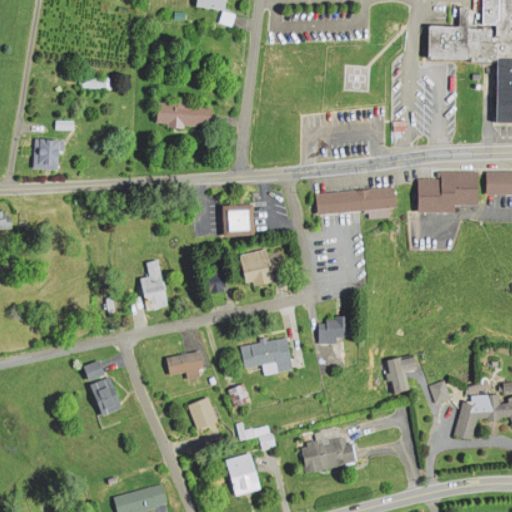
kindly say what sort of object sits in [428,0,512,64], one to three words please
building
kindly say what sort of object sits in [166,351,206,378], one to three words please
house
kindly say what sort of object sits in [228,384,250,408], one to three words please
barn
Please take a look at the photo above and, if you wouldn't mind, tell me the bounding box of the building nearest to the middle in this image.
[240,250,272,286]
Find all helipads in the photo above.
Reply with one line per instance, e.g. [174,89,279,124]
[344,64,370,92]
